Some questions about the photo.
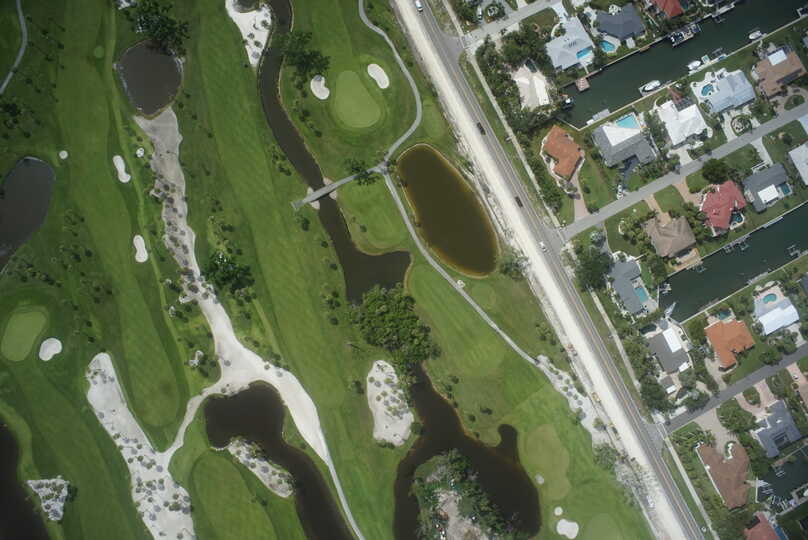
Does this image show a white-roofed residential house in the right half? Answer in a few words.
Yes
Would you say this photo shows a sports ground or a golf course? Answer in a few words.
golf course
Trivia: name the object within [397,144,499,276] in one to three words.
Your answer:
pond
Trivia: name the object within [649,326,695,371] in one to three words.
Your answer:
house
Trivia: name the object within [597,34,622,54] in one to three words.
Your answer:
swimming pool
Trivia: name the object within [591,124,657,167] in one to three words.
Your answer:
house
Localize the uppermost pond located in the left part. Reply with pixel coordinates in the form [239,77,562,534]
[118,39,182,118]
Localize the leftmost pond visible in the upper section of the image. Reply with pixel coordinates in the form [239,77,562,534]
[0,157,55,271]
